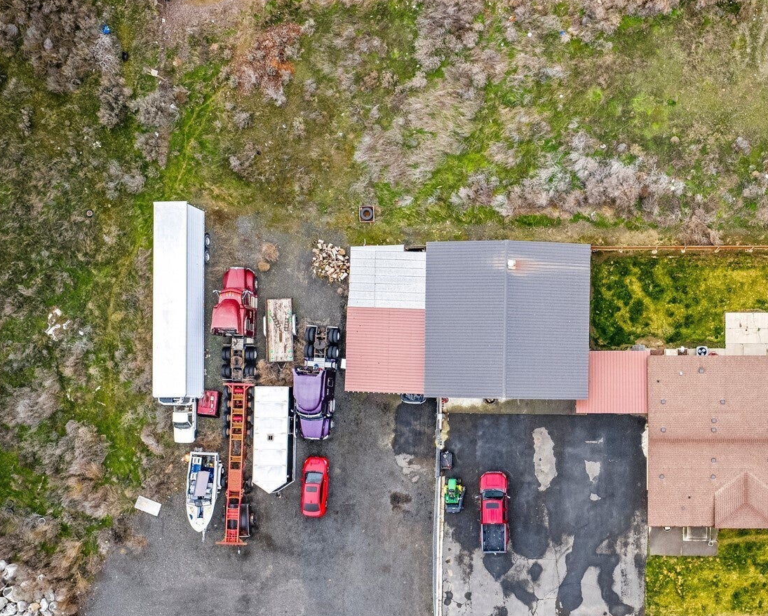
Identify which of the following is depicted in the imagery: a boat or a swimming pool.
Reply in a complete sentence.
There is a boat in the scene.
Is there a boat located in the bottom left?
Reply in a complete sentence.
Yes, the scene does show a boat in the bottom left.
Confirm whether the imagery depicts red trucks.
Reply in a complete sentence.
Yes, you can see a red truck in this photo.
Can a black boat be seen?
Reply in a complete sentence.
No, I can't see a single black boat in this photo.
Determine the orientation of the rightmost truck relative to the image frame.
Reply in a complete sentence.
The rightmost truck is laid out vertically.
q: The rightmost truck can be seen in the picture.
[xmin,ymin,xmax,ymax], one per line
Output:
[476,471,510,554]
